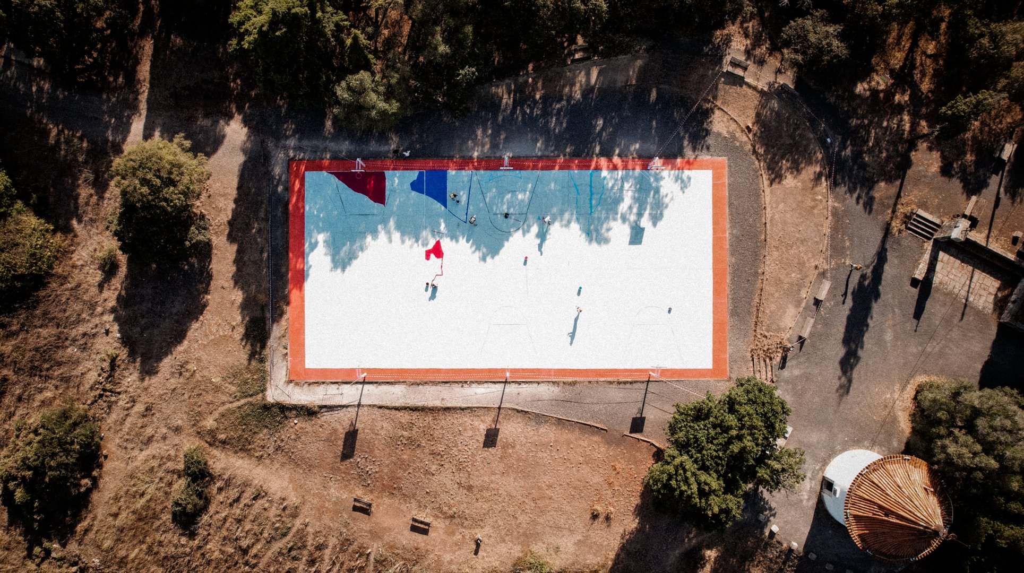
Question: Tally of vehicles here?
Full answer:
The photo contains no vehicles.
